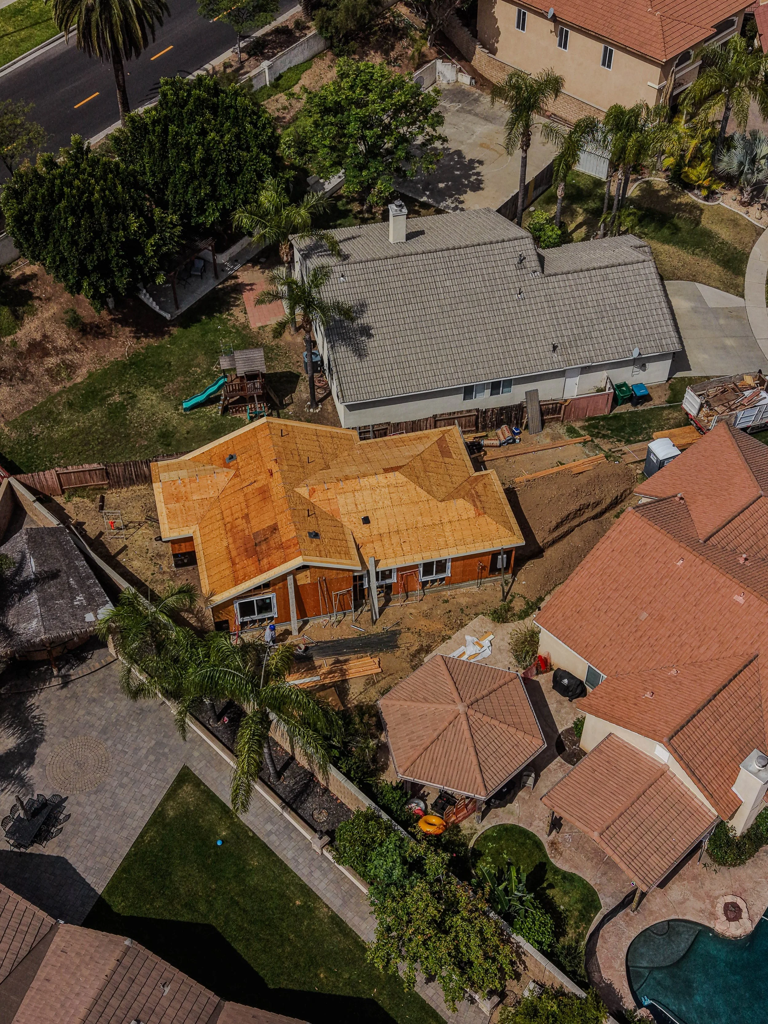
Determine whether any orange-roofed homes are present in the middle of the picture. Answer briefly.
Yes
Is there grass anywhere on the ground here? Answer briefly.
Yes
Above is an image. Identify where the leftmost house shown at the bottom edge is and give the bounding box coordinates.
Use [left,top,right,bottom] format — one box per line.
[0,884,282,1024]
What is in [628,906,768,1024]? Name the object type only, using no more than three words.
swimming pool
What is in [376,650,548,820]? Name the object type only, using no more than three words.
gazebo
